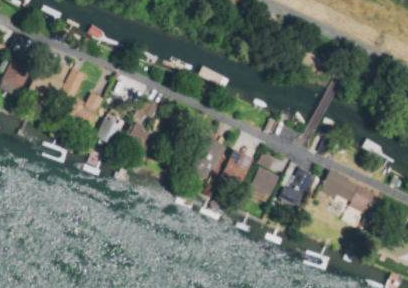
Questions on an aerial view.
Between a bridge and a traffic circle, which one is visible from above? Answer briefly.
bridge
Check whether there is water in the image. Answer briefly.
Yes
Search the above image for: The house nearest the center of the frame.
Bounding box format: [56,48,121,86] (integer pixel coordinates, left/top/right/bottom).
[193,134,228,180]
